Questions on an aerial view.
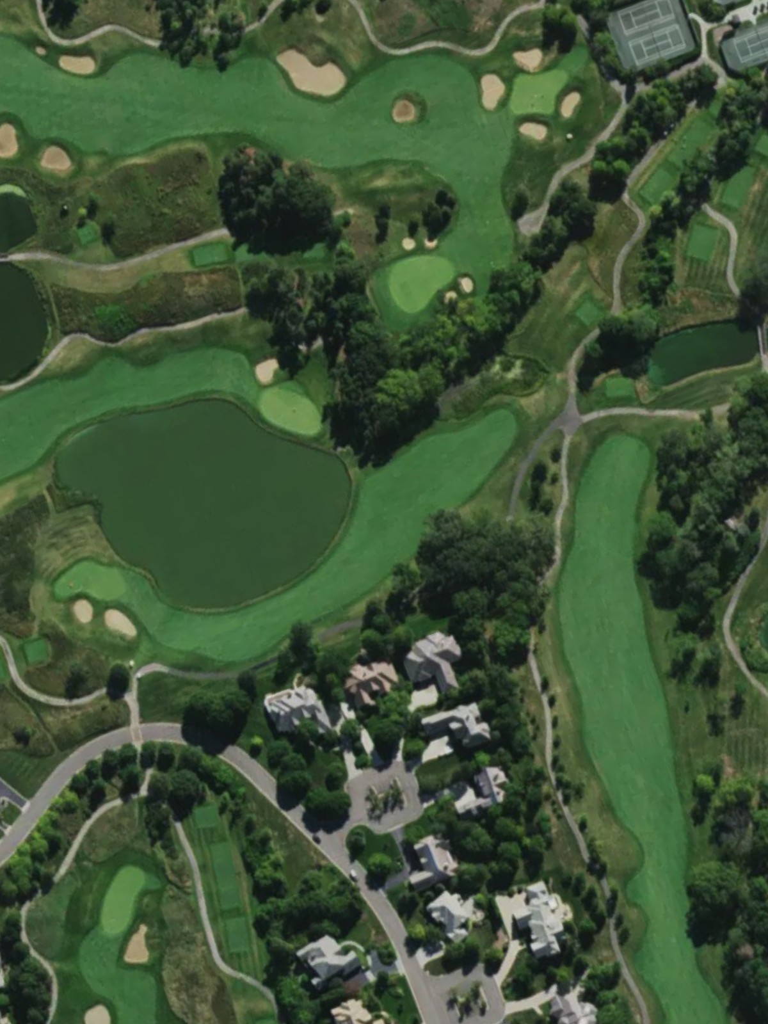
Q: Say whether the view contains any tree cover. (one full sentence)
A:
Yes, tree cover can be seen from above here.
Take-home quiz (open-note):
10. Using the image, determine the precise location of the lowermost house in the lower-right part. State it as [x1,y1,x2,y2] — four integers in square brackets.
[548,991,598,1024]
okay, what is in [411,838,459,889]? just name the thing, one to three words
house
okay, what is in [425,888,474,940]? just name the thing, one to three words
house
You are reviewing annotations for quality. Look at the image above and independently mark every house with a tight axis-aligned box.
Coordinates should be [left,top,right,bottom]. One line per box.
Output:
[423,701,492,749]
[425,888,474,940]
[259,683,333,736]
[473,763,511,808]
[297,934,359,988]
[548,991,598,1024]
[402,630,463,689]
[514,878,563,958]
[341,659,402,710]
[411,838,459,889]
[329,996,384,1024]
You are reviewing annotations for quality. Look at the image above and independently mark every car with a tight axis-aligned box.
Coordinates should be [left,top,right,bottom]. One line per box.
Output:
[312,834,321,844]
[349,869,359,881]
